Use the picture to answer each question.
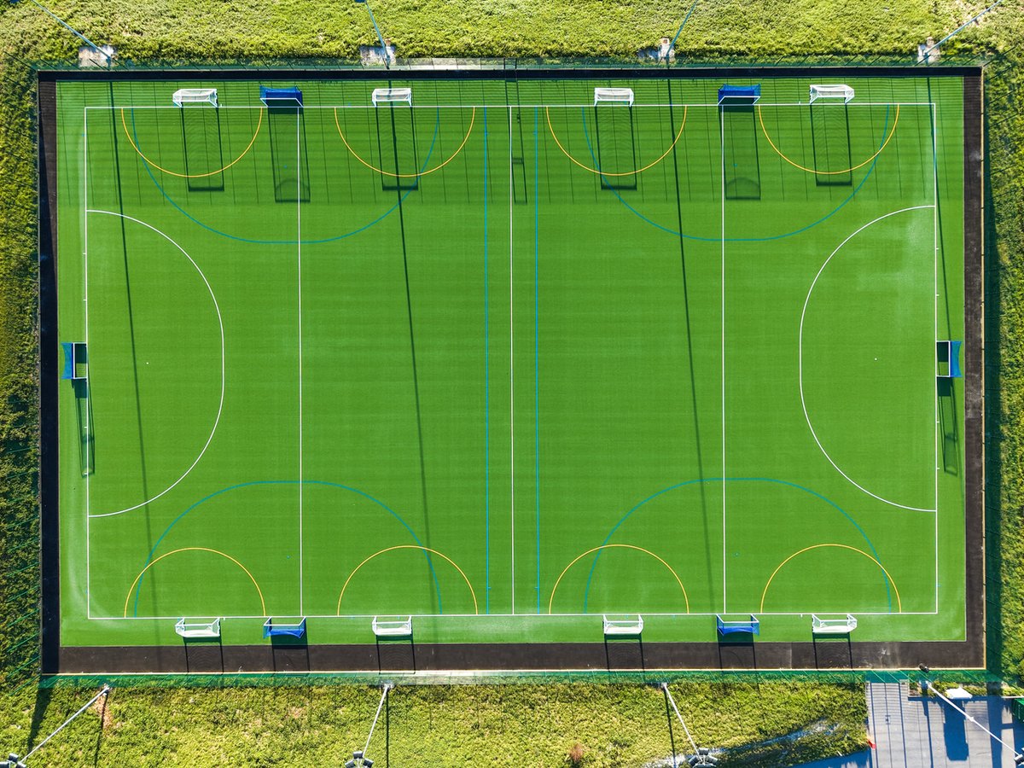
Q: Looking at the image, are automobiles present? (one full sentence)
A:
No, there appears to be no automobile in this shot.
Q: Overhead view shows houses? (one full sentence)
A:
No, I find no house anywhere in the image.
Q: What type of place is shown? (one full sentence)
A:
The area seen from above is a sports ground.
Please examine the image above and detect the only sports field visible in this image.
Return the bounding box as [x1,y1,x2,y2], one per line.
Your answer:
[56,77,967,646]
